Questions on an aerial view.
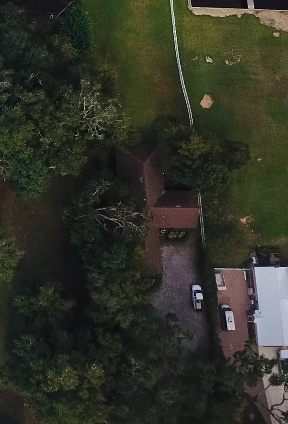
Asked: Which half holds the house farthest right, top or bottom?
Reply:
bottom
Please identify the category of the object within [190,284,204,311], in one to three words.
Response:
vehicle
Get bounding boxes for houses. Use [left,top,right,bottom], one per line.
[248,253,288,347]
[111,144,199,274]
